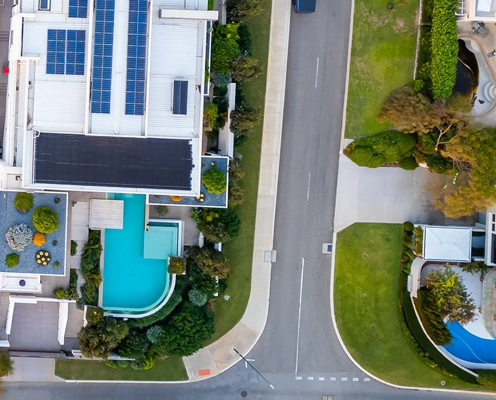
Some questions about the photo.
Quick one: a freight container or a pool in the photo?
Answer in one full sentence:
I can see a pool in this picture.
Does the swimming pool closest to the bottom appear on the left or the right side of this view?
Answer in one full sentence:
The swimming pool closest to the bottom appears in the right half of the scene.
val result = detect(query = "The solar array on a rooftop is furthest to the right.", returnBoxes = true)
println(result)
[125,0,148,115]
